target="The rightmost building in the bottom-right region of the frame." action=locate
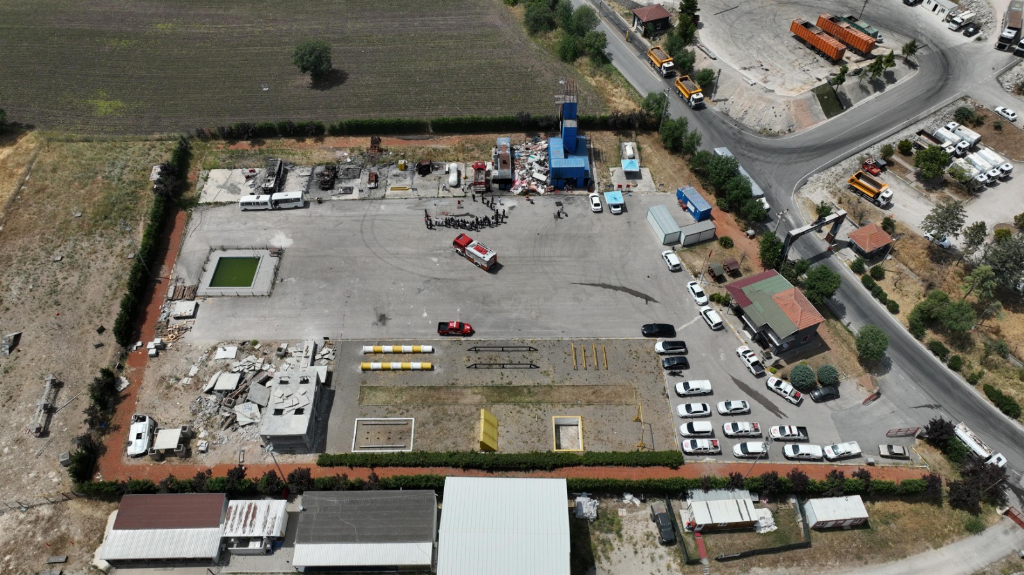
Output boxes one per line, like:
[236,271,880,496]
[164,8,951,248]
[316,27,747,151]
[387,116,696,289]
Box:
[805,496,868,531]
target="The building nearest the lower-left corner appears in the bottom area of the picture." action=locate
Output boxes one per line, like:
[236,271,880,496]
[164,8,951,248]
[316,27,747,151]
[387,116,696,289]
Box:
[101,493,231,565]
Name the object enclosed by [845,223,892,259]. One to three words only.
shed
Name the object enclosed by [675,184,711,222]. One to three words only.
shipping container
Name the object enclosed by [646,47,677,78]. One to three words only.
truck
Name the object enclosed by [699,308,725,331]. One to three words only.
car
